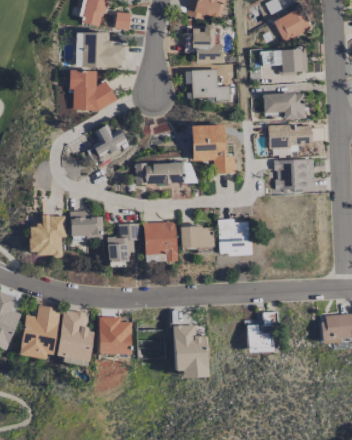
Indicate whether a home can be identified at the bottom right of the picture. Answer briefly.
Yes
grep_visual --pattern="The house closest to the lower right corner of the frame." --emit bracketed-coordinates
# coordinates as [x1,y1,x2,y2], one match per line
[322,314,352,348]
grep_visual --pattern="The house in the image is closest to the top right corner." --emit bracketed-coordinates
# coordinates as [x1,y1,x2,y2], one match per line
[276,9,310,40]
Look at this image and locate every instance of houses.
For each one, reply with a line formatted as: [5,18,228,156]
[30,215,65,258]
[70,70,117,111]
[136,162,186,184]
[181,226,215,254]
[76,32,126,69]
[98,317,132,356]
[274,160,314,191]
[70,210,104,244]
[268,124,313,157]
[193,25,222,63]
[58,308,92,367]
[322,314,352,348]
[173,322,210,378]
[244,319,274,352]
[20,306,61,360]
[264,93,305,118]
[78,0,108,26]
[189,0,225,18]
[96,124,132,156]
[218,220,252,256]
[276,9,310,40]
[192,125,236,174]
[108,224,139,268]
[261,47,308,74]
[186,70,230,101]
[144,222,178,262]
[116,12,130,30]
[0,288,23,346]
